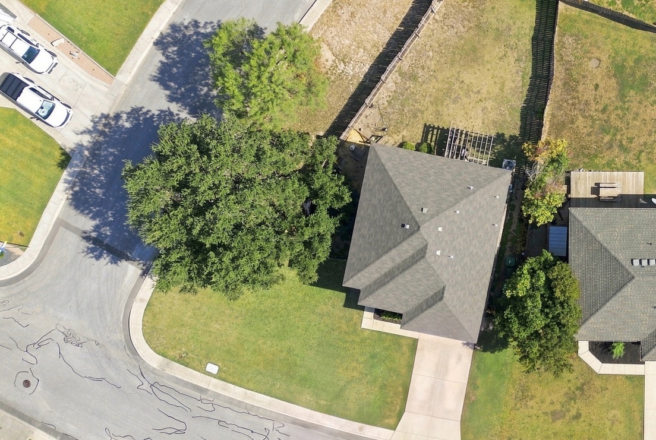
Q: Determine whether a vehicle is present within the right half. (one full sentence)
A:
No, within the right half there is no vehicle.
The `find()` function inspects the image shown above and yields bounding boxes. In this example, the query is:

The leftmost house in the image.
[343,141,512,344]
